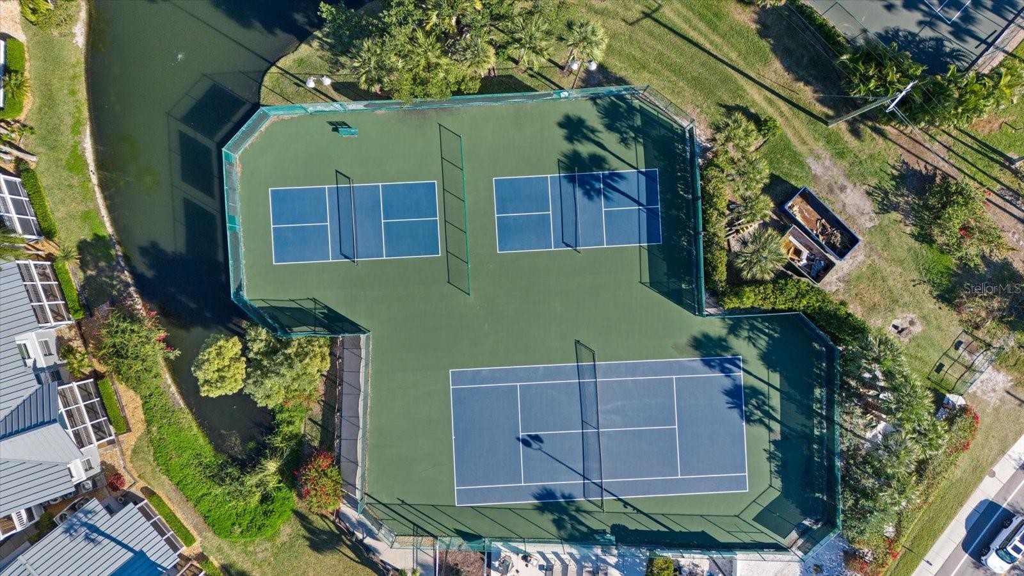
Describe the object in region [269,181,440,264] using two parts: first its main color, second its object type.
blue sports court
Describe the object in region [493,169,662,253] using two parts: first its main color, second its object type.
blue sports court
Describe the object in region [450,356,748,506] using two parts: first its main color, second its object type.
blue tennis court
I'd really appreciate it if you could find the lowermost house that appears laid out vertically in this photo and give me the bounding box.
[0,259,119,544]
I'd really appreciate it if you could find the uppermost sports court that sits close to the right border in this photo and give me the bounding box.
[804,0,1024,71]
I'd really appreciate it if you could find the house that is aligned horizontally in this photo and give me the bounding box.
[0,497,189,576]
